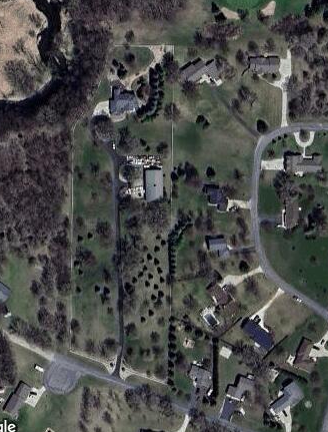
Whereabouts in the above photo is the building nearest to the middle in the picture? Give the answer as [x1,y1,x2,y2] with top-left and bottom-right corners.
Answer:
[145,169,163,201]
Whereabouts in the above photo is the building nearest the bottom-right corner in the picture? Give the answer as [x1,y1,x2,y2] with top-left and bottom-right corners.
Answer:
[270,381,306,413]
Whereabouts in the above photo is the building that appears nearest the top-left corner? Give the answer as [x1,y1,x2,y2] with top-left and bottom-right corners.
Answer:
[108,86,139,114]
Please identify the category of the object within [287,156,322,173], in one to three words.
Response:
house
